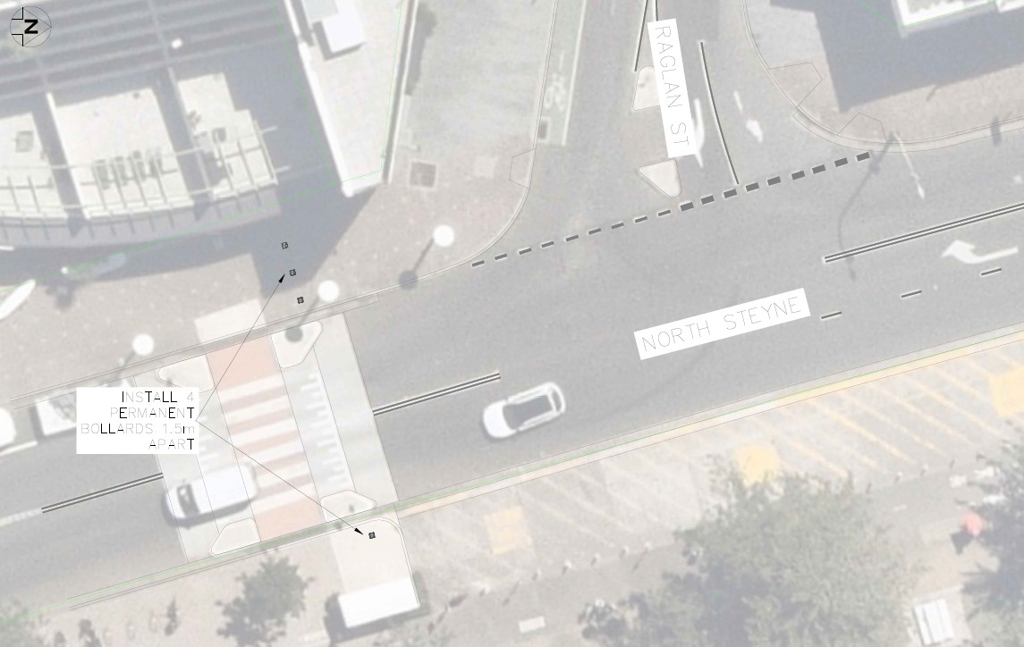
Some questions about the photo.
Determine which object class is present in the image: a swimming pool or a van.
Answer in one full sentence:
Of the two, only a van appears.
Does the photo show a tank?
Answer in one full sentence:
No, no tank can be seen from above.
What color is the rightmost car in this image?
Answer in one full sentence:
The color of the rightmost car is white.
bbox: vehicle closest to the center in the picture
[482,383,567,439]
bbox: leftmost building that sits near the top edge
[0,0,291,247]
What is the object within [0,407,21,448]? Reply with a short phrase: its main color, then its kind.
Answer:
white vehicle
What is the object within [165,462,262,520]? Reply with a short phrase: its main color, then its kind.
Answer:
white van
